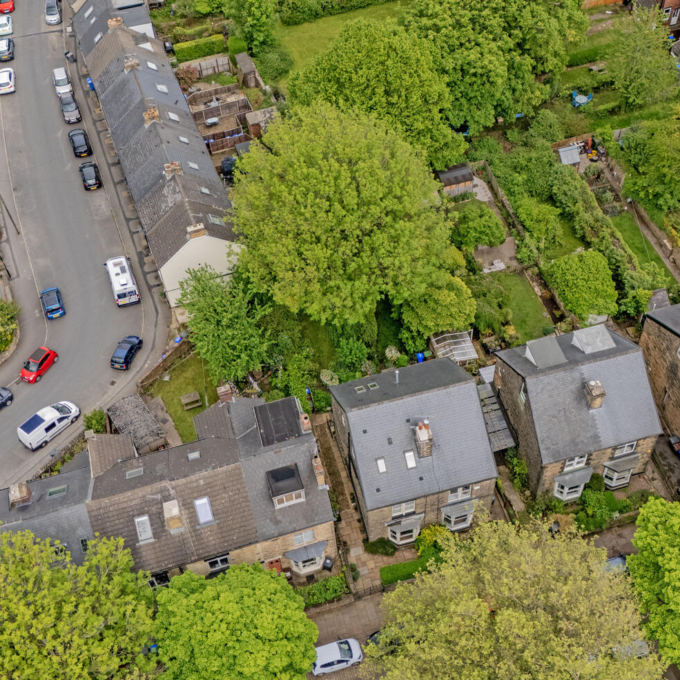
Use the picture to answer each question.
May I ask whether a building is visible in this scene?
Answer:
Yes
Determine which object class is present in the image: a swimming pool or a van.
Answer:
van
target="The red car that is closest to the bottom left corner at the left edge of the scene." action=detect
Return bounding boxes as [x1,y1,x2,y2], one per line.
[17,346,61,384]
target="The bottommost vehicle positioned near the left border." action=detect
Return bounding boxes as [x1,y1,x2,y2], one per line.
[15,402,81,451]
